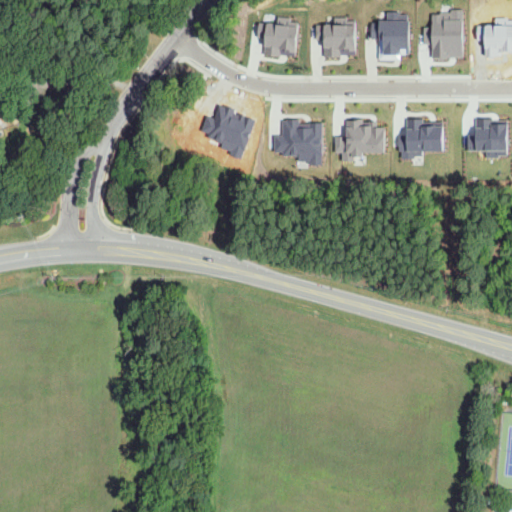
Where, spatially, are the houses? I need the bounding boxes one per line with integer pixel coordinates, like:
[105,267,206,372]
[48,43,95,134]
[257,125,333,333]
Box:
[371,12,412,61]
[272,119,324,165]
[336,120,388,162]
[316,17,360,58]
[476,18,512,57]
[201,103,260,162]
[423,10,466,61]
[468,119,509,158]
[257,17,302,58]
[396,118,446,160]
